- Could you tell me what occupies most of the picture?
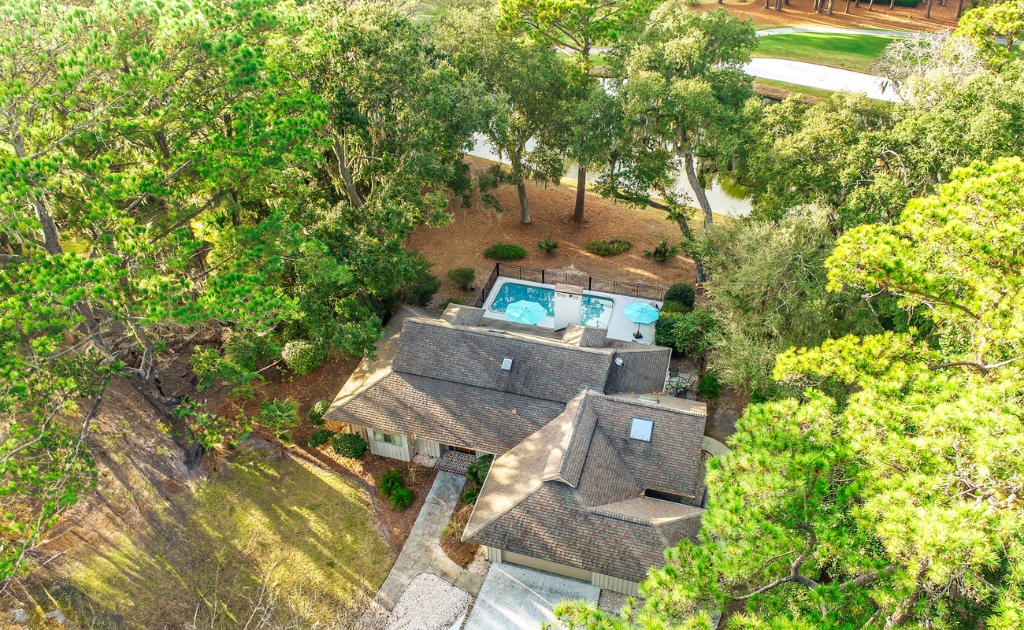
trees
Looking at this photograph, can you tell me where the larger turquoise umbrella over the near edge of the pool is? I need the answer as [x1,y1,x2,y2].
[505,302,547,326]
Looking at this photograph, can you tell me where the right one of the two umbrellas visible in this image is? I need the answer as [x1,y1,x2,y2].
[622,307,659,339]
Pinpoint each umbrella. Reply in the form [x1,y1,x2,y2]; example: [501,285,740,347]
[505,302,547,326]
[622,307,659,339]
